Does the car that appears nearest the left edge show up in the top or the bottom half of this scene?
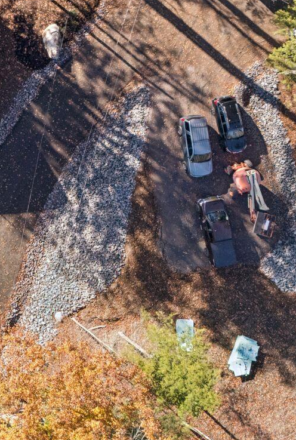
top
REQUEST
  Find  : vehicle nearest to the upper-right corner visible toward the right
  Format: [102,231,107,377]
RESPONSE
[206,96,248,155]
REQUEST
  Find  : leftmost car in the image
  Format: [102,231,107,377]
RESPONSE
[174,114,214,178]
